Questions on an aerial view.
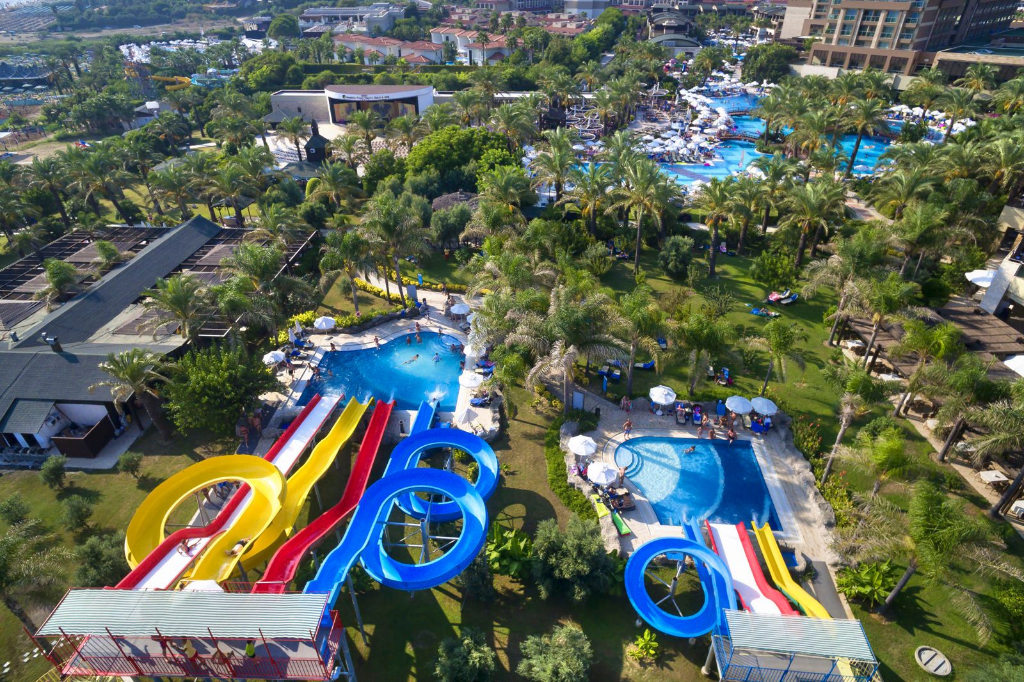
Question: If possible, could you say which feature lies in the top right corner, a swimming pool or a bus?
swimming pool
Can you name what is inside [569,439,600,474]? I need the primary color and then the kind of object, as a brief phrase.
white umbrella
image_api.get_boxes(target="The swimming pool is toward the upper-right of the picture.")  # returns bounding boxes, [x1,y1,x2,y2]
[566,93,943,187]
